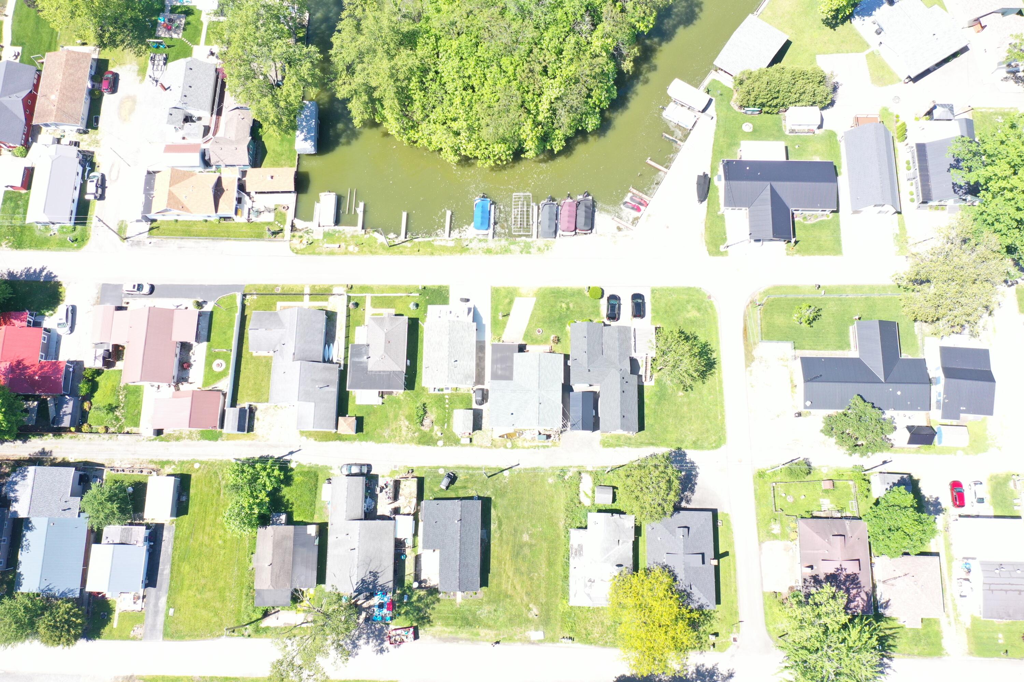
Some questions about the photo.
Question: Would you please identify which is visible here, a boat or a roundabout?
boat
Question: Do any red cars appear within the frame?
Yes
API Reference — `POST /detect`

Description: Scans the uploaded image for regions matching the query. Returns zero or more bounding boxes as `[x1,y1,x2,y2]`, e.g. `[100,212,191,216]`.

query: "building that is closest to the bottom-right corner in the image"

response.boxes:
[971,561,1024,621]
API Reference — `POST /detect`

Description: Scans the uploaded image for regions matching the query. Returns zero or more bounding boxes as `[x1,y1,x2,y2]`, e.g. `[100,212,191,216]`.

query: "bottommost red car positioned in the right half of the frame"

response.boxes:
[948,479,966,510]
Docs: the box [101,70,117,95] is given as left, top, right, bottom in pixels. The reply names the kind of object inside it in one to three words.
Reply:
car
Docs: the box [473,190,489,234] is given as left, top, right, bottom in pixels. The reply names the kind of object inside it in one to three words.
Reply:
boat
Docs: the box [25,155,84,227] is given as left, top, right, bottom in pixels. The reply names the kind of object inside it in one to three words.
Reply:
house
